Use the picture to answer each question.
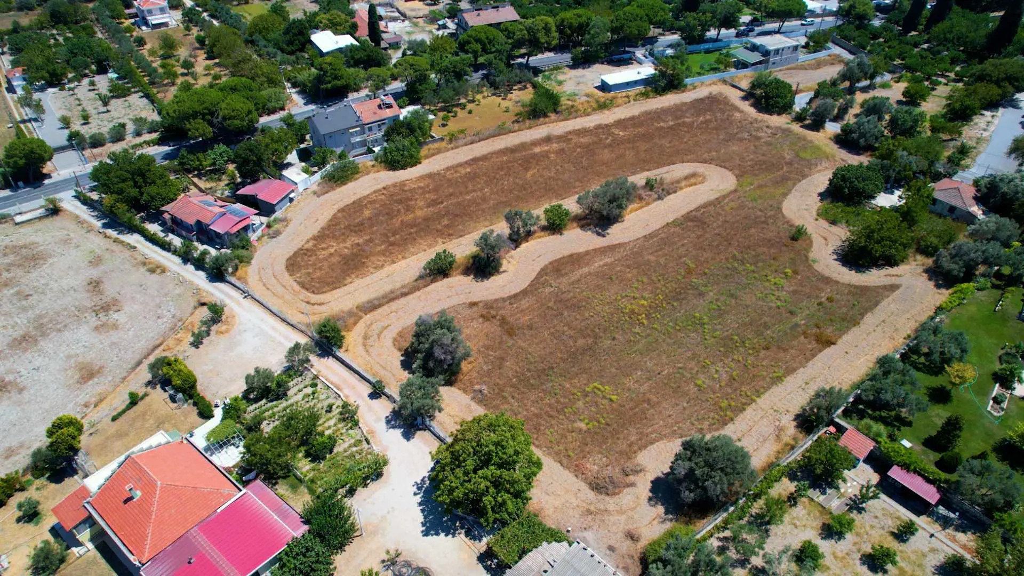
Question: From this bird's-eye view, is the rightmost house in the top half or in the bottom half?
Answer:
top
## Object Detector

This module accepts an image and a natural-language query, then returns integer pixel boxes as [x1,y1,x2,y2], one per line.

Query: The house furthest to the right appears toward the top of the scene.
[931,177,986,222]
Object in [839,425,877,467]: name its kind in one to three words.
shed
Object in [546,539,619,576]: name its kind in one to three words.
barn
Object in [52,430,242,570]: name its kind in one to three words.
house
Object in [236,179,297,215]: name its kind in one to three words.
building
